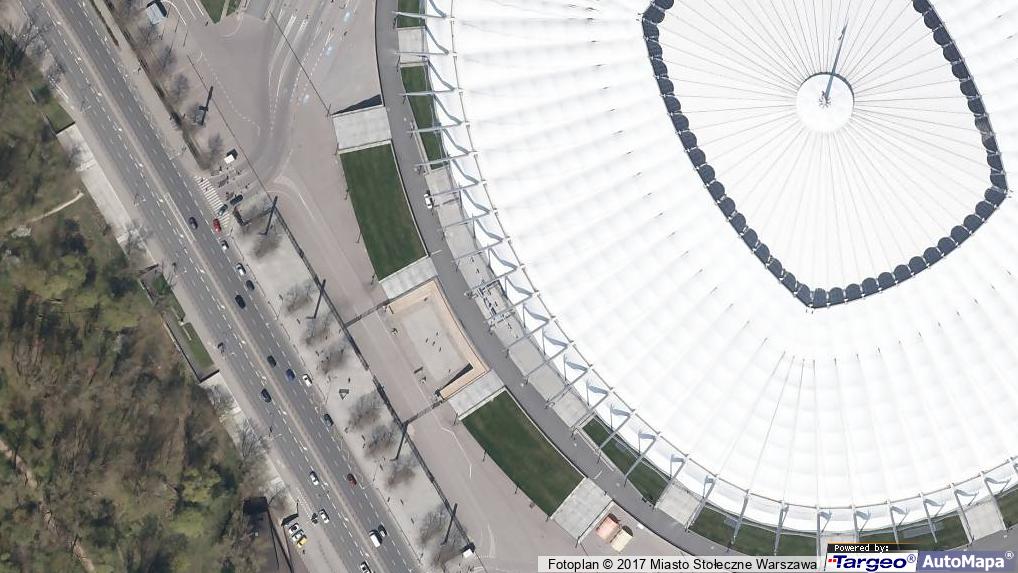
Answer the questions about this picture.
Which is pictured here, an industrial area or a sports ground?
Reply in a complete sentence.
It's a sports ground.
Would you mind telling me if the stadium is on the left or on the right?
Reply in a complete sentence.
You can find the stadium on the right side of the picture.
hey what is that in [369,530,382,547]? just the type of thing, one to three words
vehicle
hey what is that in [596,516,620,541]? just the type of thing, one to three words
tent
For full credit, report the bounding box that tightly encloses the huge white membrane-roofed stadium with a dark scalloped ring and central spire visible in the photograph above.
[392,0,1018,564]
